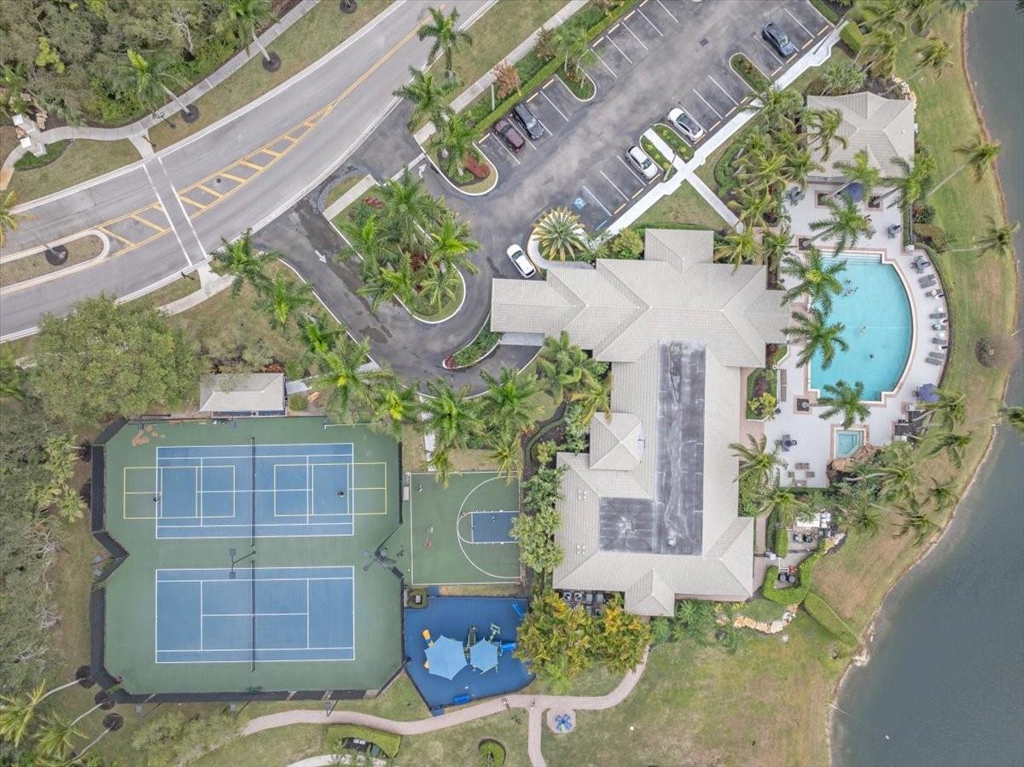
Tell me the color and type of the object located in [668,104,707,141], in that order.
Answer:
white car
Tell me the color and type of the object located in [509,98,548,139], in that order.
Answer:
gray car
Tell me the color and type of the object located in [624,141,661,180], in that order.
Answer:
white car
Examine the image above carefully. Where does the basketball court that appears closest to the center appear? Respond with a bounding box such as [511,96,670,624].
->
[404,471,523,586]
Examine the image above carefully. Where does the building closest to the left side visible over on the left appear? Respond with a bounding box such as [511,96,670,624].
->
[200,373,286,417]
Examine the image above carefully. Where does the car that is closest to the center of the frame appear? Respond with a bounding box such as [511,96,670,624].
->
[503,240,538,280]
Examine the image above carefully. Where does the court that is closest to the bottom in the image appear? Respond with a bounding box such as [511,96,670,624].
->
[104,553,409,694]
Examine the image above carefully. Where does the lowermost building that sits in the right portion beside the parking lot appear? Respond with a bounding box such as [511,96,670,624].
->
[492,229,790,615]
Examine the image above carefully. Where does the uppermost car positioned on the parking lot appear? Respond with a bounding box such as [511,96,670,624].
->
[762,17,797,58]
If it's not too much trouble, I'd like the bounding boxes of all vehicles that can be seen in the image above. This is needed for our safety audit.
[624,141,661,180]
[503,240,538,280]
[668,104,707,141]
[762,17,797,58]
[509,98,548,139]
[491,115,529,152]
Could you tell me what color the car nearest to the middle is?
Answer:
white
